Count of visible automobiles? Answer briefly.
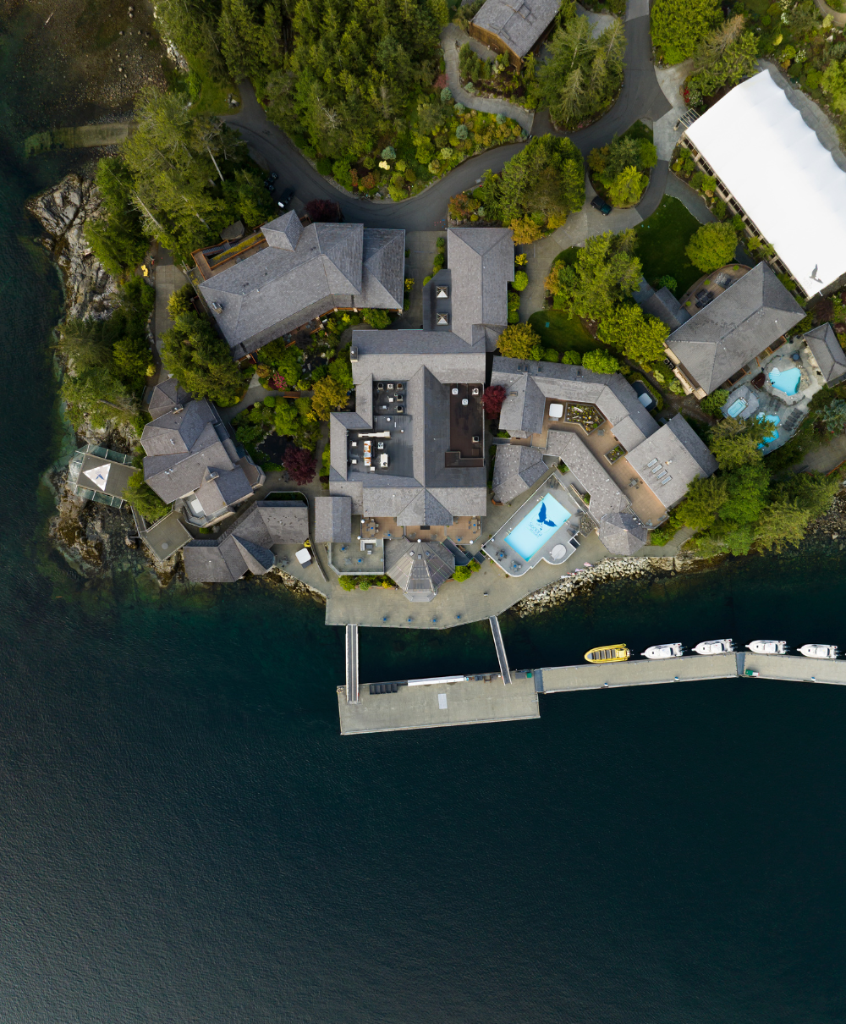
2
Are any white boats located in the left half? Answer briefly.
No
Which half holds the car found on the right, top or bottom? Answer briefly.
top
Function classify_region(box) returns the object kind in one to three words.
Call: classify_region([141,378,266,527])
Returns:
house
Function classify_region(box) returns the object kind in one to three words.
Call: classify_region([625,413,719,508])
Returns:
building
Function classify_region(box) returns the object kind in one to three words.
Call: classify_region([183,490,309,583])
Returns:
building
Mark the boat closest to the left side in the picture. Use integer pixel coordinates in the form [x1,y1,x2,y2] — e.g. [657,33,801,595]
[587,644,631,663]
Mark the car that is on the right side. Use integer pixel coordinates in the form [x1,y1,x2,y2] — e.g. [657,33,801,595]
[590,191,614,215]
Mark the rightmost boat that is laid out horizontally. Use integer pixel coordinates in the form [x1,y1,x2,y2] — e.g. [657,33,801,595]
[799,645,844,662]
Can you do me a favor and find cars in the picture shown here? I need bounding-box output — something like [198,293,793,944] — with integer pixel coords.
[590,191,614,215]
[275,185,297,207]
